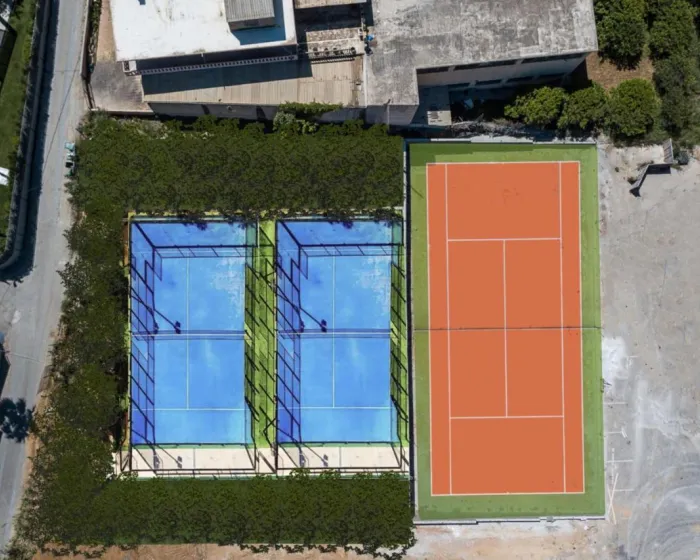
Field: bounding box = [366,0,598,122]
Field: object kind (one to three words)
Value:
building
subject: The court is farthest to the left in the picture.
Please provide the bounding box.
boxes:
[118,213,263,476]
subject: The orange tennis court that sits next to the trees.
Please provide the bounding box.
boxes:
[410,142,605,519]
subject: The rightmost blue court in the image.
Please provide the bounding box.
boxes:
[263,213,409,476]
